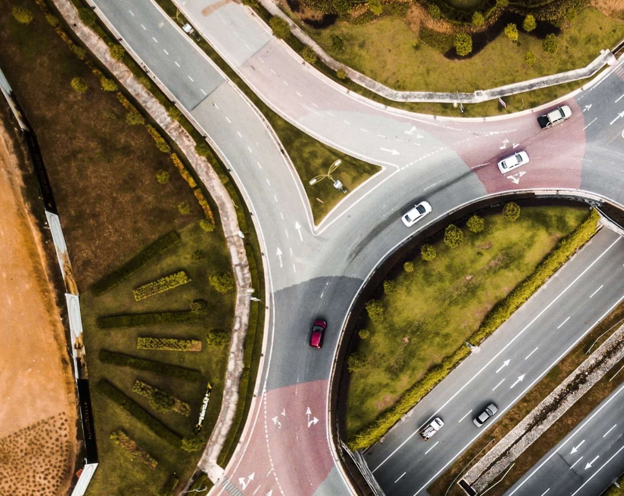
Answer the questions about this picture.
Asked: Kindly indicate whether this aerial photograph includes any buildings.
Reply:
No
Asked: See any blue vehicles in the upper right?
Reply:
No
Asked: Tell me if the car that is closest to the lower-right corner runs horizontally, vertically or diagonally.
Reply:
diagonally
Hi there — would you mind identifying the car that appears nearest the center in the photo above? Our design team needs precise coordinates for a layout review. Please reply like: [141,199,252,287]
[310,319,326,349]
